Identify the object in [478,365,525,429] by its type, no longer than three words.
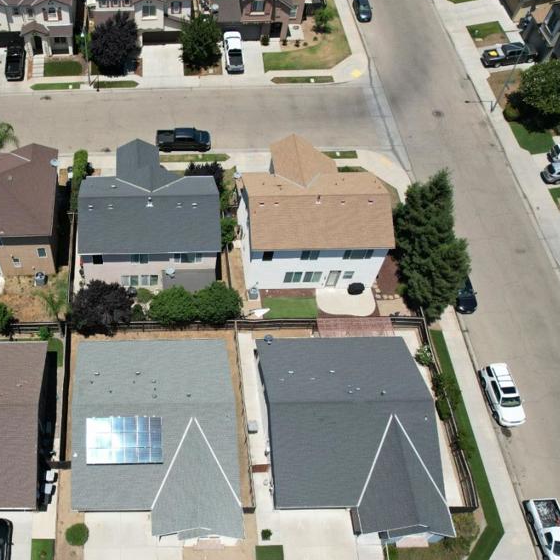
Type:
car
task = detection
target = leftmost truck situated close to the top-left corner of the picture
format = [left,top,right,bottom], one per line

[3,48,26,80]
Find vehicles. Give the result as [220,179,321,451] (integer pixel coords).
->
[156,129,210,153]
[524,498,560,560]
[450,266,481,312]
[0,519,13,560]
[350,0,373,23]
[478,365,525,429]
[539,161,560,185]
[475,43,532,67]
[544,141,560,162]
[3,48,26,80]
